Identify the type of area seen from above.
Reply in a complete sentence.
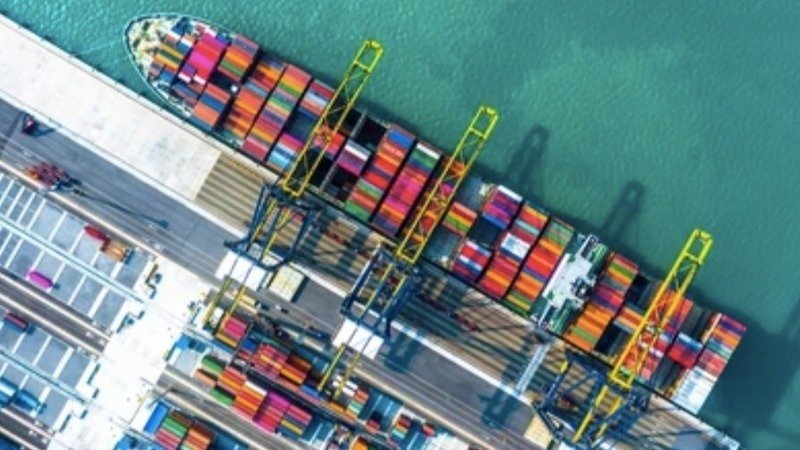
The area seen from above is a port.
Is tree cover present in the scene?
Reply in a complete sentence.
No, there's no tree cover in this view.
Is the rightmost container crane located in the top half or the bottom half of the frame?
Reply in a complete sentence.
The bottom half of the photo is where the rightmost container crane is.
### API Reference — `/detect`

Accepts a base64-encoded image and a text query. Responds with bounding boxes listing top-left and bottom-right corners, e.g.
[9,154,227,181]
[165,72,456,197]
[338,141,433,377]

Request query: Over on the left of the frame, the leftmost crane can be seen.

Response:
[202,38,383,330]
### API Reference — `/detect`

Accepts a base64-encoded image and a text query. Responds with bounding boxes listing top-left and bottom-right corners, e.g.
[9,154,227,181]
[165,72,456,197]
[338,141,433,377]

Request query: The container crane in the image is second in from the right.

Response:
[319,106,499,397]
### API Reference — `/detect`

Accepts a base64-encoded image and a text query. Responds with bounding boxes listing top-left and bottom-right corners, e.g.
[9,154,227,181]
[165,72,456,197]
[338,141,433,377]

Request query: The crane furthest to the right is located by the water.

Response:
[533,231,716,450]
